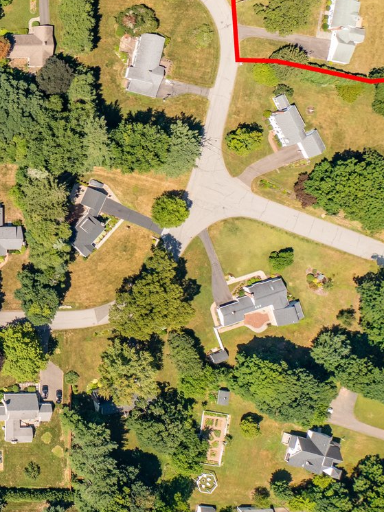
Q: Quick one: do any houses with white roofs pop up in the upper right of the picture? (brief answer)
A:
Yes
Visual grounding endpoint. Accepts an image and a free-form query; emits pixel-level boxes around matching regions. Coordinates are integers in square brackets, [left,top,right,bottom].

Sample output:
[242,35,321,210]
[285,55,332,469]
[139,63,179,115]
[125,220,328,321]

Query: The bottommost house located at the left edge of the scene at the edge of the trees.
[0,391,55,444]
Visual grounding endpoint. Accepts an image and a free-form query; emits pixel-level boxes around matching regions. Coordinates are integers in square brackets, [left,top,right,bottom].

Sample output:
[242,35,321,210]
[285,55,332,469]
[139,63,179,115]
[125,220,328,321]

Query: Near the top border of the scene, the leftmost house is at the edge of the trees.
[7,23,55,67]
